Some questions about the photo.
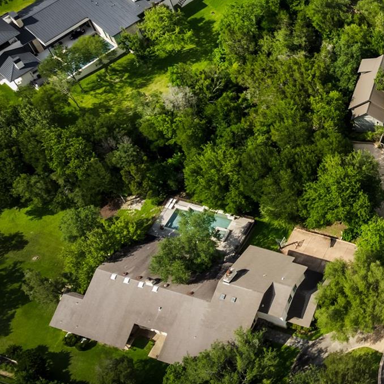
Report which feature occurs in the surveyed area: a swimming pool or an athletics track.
swimming pool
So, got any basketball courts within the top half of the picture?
No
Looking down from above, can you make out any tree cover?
Yes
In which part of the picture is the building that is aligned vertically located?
top right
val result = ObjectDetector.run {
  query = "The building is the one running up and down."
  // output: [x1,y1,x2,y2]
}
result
[349,54,384,130]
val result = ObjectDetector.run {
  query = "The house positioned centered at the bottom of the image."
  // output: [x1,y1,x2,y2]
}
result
[50,238,330,369]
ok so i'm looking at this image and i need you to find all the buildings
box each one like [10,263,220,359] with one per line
[50,238,330,369]
[0,0,181,92]
[349,54,384,130]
